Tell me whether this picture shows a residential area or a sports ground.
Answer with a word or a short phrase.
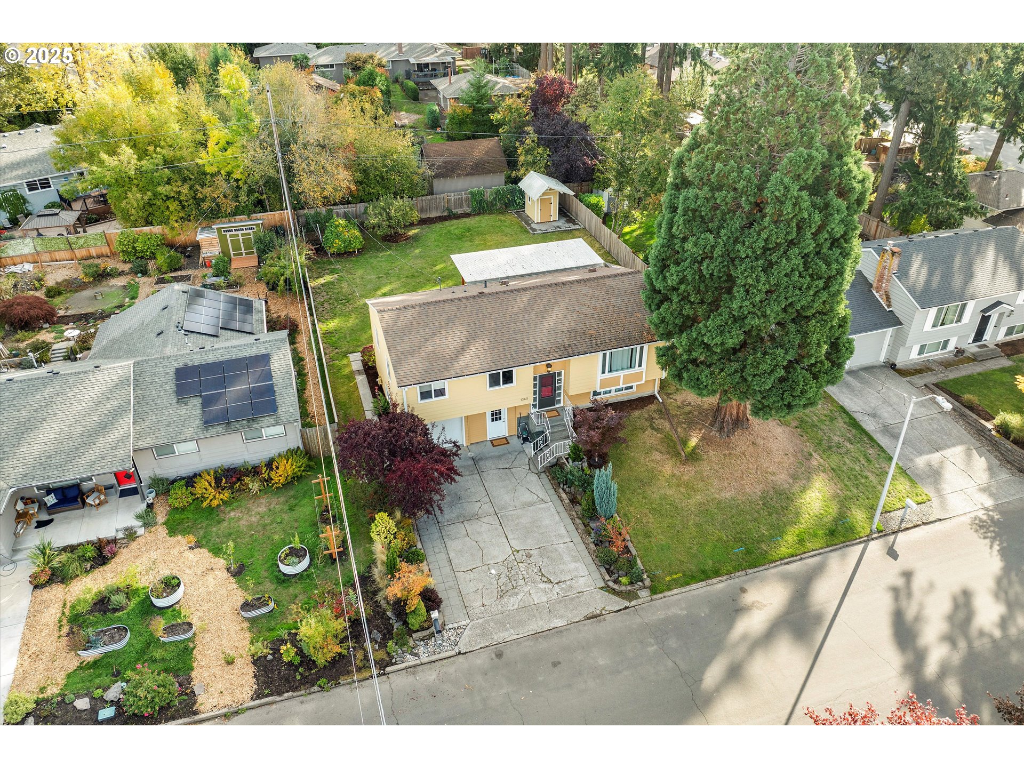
residential area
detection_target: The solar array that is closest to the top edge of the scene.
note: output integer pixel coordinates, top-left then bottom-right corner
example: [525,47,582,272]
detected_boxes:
[184,290,254,335]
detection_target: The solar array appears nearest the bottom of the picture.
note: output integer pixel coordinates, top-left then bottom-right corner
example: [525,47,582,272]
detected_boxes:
[176,352,276,424]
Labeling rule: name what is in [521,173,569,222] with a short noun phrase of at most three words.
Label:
shed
